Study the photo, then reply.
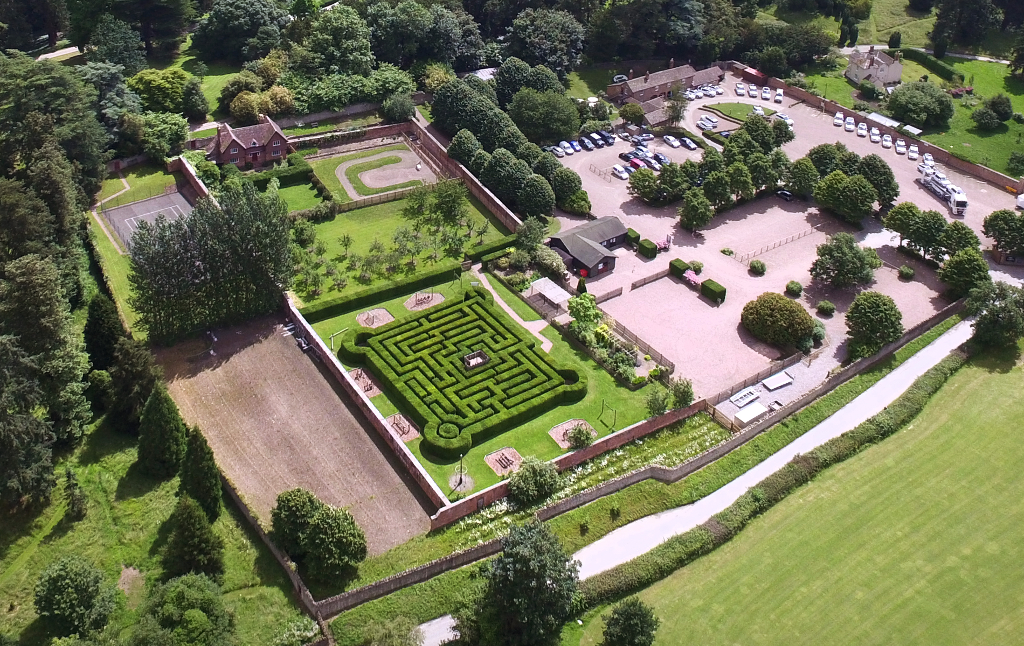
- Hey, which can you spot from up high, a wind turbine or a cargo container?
cargo container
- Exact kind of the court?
tennis court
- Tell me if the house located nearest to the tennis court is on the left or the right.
left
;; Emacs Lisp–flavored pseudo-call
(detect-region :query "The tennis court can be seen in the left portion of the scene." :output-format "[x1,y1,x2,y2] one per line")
[100,191,203,257]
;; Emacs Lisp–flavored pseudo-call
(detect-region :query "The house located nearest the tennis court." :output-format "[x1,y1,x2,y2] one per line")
[200,112,290,166]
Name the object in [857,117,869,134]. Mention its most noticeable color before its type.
white vehicle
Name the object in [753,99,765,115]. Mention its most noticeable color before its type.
white vehicle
